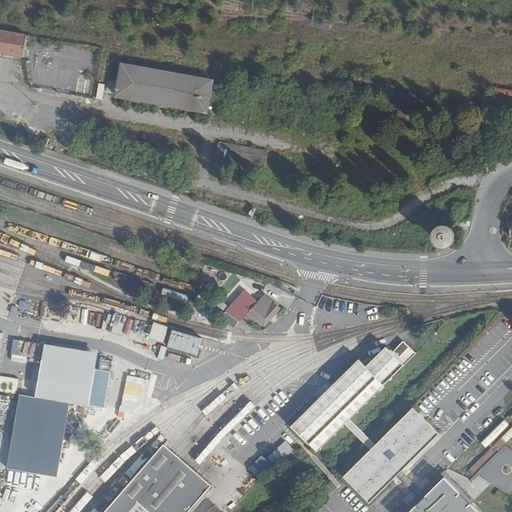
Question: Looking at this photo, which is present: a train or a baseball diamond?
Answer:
train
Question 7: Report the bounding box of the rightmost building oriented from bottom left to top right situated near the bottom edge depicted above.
[342,408,438,504]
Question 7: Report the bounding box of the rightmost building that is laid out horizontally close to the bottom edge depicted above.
[410,478,480,512]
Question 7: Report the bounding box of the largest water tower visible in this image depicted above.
[430,225,455,250]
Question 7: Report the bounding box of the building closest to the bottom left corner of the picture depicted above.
[5,394,68,478]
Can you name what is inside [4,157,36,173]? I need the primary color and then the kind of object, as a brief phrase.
white vehicle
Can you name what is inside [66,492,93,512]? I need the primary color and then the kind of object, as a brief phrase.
white train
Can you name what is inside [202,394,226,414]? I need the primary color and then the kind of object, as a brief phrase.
white train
